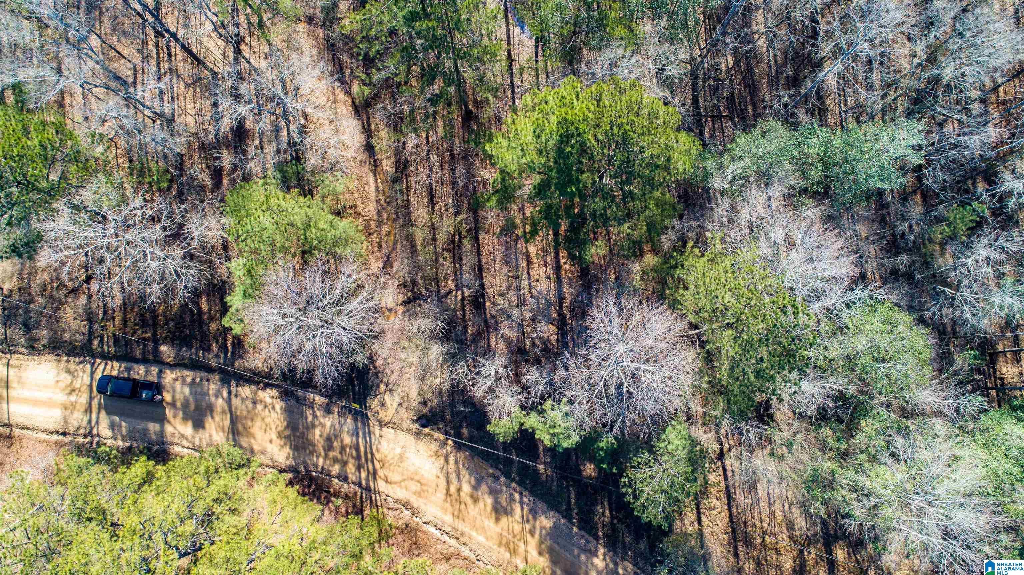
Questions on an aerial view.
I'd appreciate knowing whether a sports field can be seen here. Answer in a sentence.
No, no sports field can be seen from above.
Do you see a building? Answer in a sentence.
No, I can see no building in this picture.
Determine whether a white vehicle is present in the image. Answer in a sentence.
No, no white vehicle can be seen from above.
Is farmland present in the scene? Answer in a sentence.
No, there is no farmland in the image.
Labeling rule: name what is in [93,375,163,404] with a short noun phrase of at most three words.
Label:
truck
